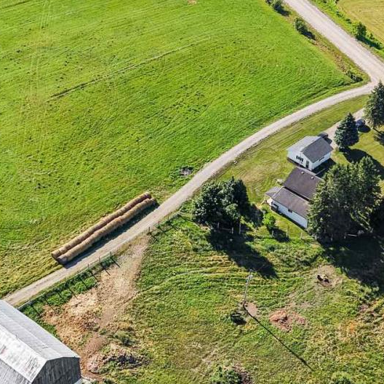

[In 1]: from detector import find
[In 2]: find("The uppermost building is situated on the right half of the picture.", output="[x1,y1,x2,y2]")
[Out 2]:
[286,135,331,170]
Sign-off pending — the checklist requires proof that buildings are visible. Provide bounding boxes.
[260,169,345,229]
[286,135,331,170]
[0,299,84,384]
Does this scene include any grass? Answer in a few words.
Yes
